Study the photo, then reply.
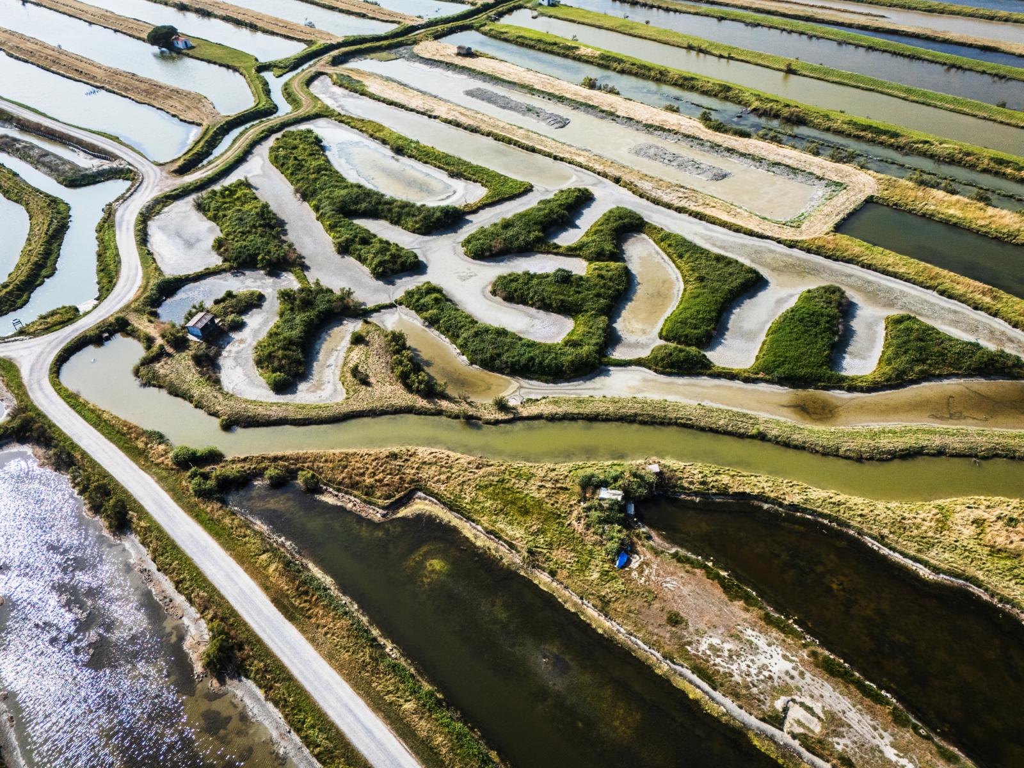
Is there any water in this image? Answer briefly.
Yes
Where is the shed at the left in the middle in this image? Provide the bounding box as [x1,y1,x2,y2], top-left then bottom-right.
[185,312,216,340]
